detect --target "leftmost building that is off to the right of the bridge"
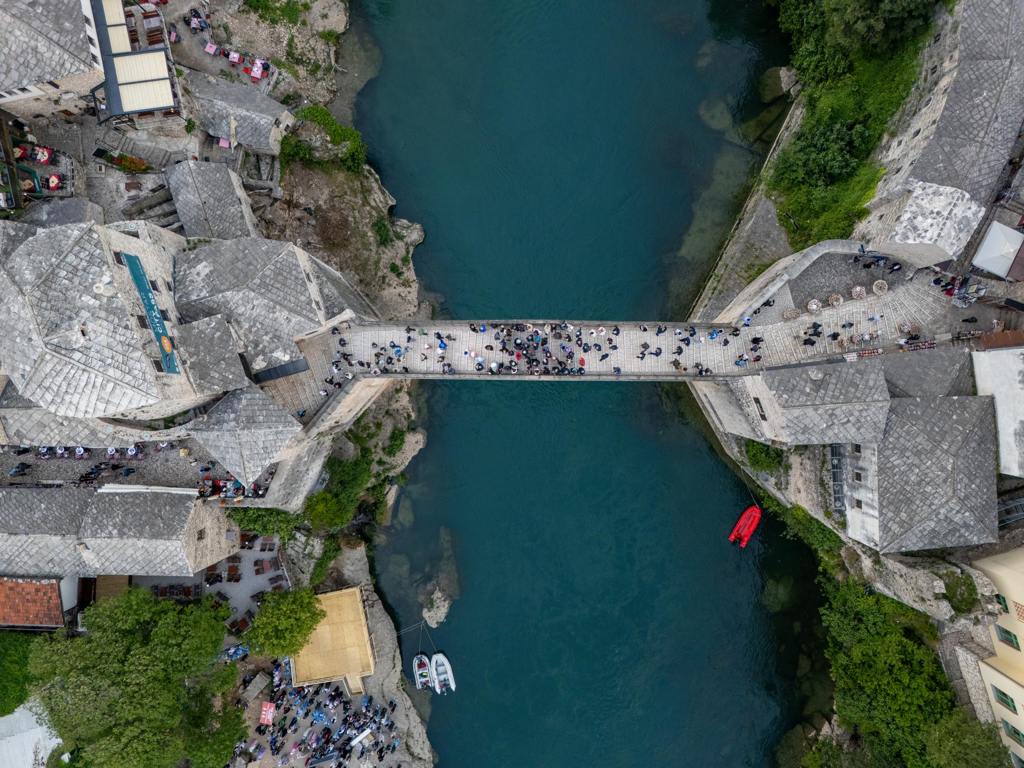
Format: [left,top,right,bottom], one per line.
[745,351,891,446]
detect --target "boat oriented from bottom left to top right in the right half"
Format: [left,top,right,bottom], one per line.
[727,507,760,551]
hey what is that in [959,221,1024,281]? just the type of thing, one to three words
tent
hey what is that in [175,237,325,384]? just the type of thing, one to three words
house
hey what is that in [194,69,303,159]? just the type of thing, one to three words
house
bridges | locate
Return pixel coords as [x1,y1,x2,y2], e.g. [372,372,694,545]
[346,319,749,382]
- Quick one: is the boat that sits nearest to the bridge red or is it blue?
red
